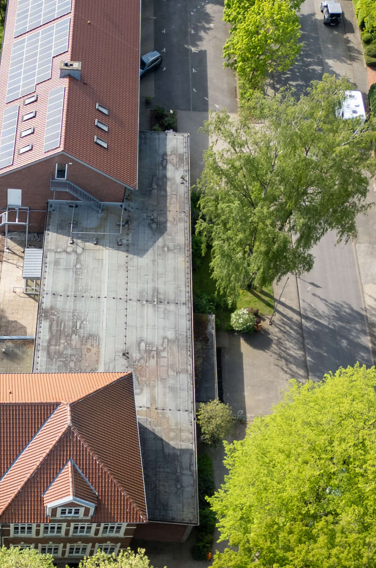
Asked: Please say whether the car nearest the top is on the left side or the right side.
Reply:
right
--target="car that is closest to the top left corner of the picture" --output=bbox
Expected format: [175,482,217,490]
[139,51,169,85]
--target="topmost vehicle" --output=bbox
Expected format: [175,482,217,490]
[321,0,345,22]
